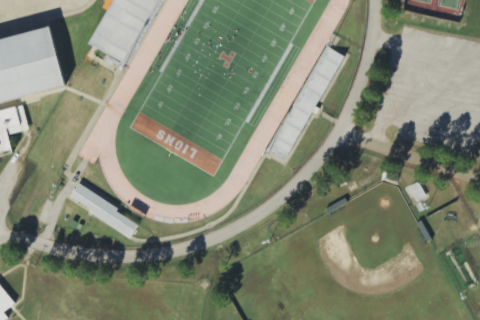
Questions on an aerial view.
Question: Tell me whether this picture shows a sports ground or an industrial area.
sports ground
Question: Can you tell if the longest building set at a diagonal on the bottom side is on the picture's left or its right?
left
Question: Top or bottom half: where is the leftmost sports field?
top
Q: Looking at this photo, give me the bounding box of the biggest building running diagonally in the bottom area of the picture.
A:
[66,182,139,238]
